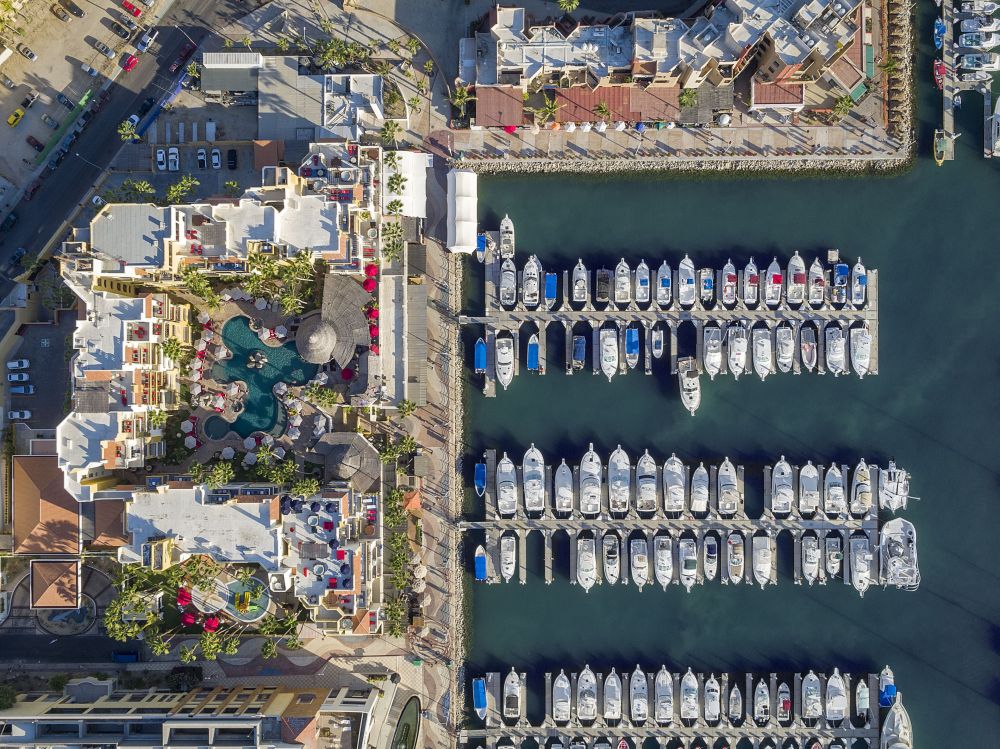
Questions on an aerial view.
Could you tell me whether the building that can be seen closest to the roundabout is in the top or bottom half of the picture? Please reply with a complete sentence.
It is in the bottom half that the building that can be seen closest to the roundabout appears.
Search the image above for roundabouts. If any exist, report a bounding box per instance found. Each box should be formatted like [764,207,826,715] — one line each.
[36,596,97,638]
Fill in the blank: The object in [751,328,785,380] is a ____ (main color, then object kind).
white boat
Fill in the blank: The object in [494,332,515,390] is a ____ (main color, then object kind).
white boat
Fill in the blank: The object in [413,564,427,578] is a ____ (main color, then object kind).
white umbrella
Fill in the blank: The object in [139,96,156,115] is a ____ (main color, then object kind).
black car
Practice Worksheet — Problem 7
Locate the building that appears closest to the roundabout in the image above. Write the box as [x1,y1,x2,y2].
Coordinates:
[30,554,95,608]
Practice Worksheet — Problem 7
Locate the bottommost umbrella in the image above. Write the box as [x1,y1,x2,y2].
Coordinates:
[388,671,402,686]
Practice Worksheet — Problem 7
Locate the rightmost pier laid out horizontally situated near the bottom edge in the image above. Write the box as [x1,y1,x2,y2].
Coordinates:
[485,672,883,749]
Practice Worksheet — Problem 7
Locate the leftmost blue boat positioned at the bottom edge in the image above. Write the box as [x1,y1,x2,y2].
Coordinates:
[473,675,486,720]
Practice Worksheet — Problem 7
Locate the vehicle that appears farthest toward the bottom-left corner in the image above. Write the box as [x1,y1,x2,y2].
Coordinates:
[109,649,142,664]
